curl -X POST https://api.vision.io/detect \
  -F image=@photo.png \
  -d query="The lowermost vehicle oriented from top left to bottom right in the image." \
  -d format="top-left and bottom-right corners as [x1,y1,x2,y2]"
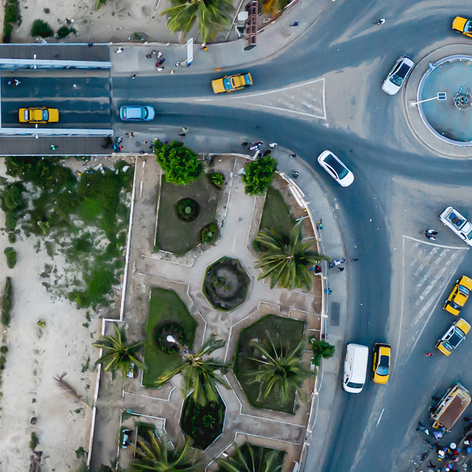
[437,205,472,246]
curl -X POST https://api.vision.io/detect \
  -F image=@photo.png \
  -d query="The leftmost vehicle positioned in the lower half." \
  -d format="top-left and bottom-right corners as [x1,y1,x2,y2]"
[345,343,366,392]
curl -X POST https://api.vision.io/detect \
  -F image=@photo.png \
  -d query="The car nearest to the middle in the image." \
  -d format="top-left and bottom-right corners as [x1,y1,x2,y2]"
[316,148,353,189]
